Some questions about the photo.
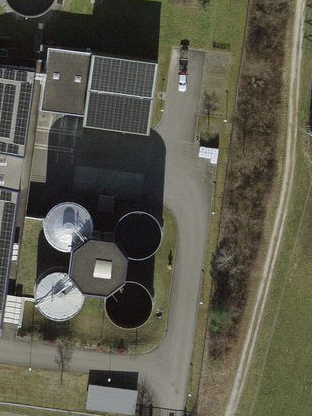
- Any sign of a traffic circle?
No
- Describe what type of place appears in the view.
industrial area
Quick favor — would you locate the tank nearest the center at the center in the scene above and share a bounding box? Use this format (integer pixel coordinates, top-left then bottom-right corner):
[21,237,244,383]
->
[113,206,164,260]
